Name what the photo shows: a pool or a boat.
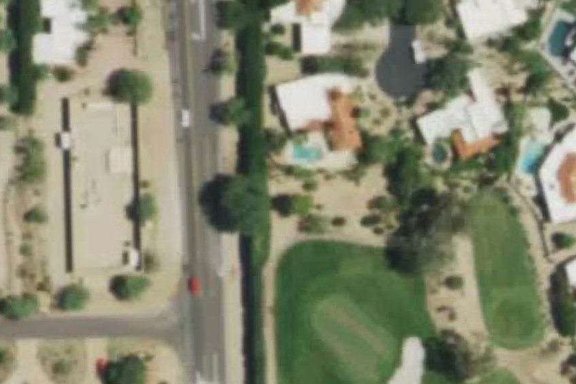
pool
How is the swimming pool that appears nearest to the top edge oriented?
up and down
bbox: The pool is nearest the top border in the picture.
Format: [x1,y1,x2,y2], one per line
[549,20,570,58]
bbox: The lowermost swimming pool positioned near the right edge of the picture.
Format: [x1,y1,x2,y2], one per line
[520,140,547,176]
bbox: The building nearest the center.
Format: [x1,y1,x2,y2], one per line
[277,73,360,151]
